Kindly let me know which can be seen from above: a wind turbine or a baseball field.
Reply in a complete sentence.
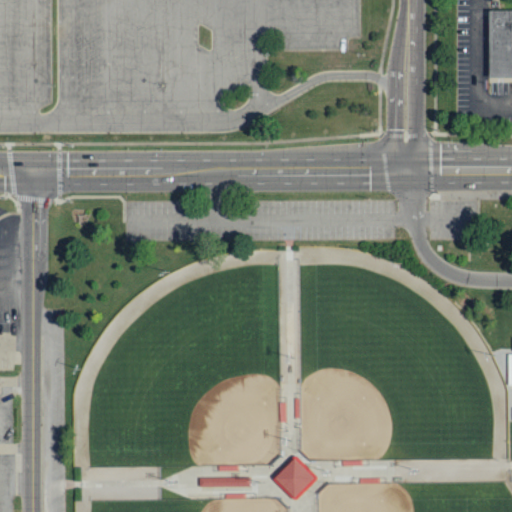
I can see a baseball field in this picture.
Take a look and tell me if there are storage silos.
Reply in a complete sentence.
No, I find no storage silo anywhere in the image.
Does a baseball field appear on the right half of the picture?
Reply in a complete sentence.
Yes, a baseball field shows up on the right half of the picture.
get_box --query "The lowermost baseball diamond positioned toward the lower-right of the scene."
[318,483,512,512]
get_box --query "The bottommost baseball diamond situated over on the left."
[92,488,288,512]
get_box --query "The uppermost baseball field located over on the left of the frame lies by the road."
[89,265,280,478]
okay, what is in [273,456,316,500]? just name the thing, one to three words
building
